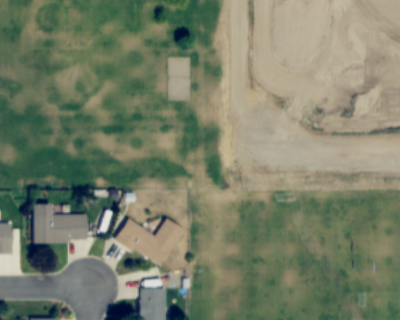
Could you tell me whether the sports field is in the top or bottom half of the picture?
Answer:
bottom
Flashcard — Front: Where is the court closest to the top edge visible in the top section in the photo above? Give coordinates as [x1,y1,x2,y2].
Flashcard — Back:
[168,58,190,78]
